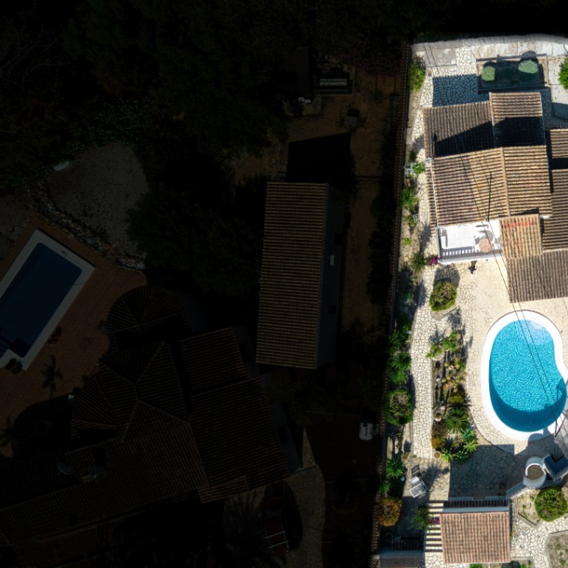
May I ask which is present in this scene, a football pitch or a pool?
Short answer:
pool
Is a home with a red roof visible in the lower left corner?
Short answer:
No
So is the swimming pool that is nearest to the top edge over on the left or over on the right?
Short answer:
left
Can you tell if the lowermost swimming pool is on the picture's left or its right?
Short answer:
right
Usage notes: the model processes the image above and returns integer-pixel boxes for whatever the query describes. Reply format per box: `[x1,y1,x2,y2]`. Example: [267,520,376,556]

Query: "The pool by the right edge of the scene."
[481,310,568,441]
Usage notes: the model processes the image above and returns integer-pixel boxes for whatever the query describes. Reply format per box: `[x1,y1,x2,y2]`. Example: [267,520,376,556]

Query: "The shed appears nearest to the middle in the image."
[255,183,342,369]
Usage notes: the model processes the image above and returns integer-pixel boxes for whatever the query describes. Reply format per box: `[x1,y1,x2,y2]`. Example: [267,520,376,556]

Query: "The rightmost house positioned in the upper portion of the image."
[423,92,568,302]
